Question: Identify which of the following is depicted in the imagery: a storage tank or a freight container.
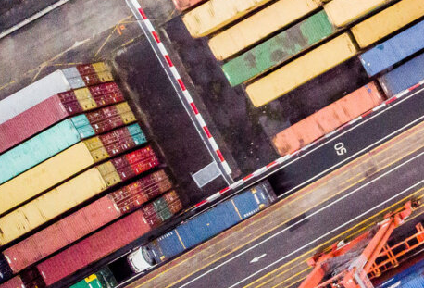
freight container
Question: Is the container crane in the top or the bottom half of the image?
bottom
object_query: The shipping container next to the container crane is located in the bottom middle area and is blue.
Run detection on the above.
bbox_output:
[146,178,277,267]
